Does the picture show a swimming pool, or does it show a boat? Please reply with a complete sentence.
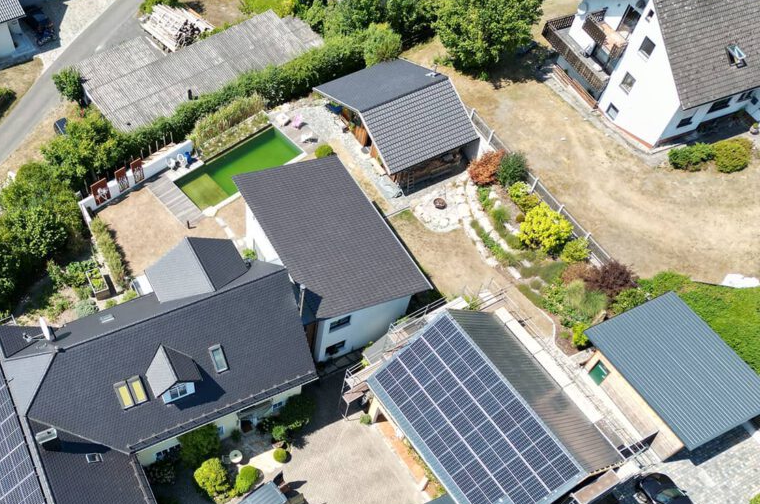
It is a swimming pool that can be seen here.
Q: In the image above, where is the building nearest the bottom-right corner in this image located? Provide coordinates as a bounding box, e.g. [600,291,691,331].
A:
[573,291,760,463]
